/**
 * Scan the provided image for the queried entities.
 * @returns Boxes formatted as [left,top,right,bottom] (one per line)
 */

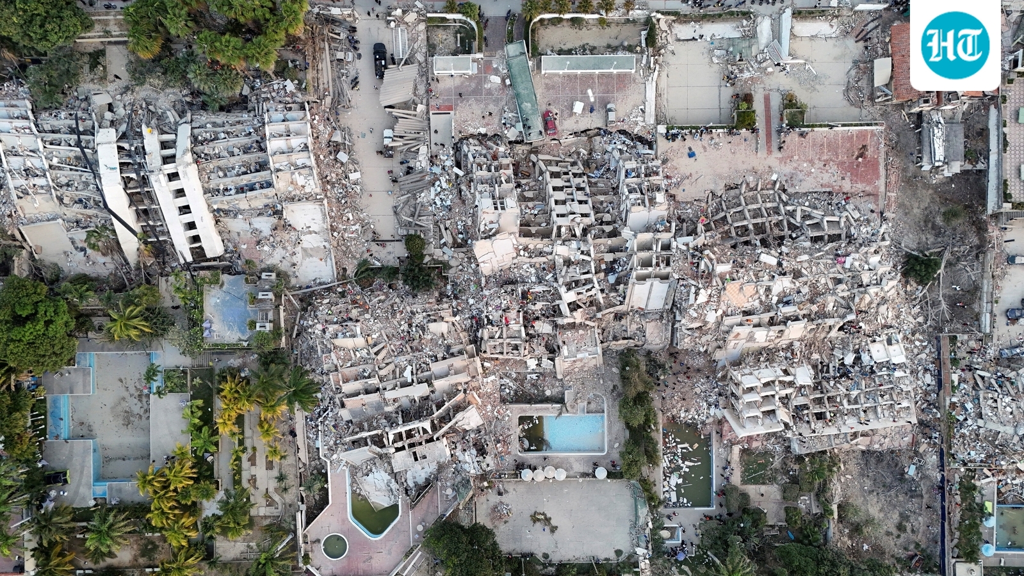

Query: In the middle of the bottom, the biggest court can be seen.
[475,479,650,563]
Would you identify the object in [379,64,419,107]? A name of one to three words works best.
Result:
shed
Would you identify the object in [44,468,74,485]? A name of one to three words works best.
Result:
tent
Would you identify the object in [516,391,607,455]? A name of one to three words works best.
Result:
swimming pool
